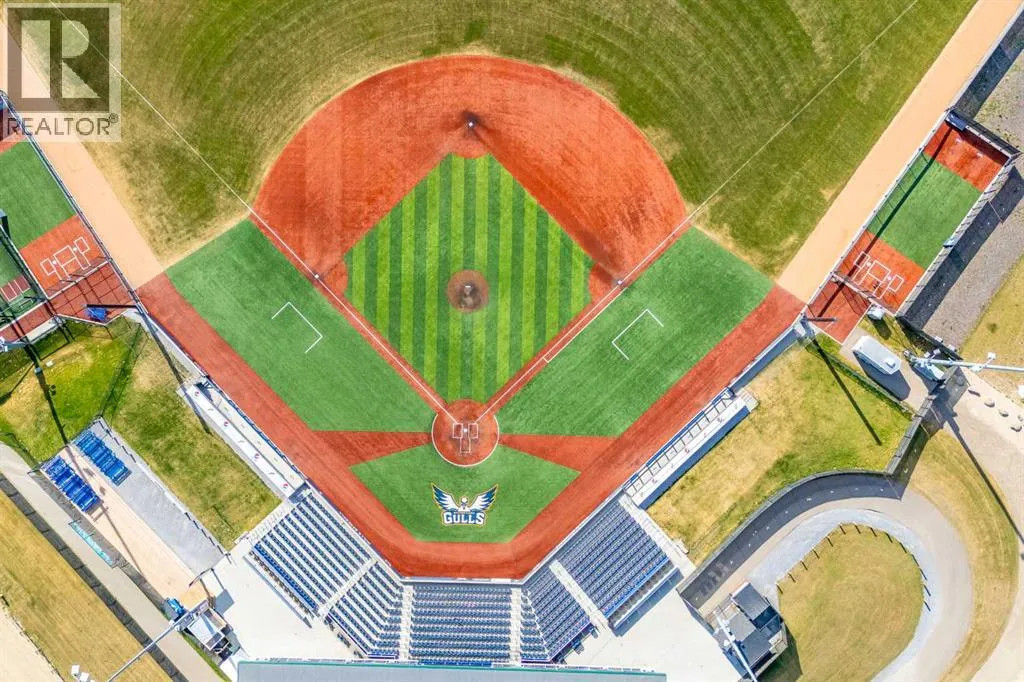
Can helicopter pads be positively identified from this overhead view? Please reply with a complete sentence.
No, I can see no helicopter pad in this picture.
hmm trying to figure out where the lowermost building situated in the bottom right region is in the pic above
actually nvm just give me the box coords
[725,577,793,682]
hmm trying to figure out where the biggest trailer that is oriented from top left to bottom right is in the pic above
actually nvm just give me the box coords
[841,330,901,374]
